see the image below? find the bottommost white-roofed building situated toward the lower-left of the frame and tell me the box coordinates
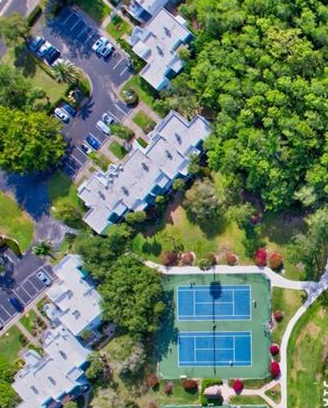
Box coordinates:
[11,325,101,408]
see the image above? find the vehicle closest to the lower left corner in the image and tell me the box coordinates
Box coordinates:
[9,298,23,313]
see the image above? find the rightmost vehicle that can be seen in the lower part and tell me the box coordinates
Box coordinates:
[37,270,52,285]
